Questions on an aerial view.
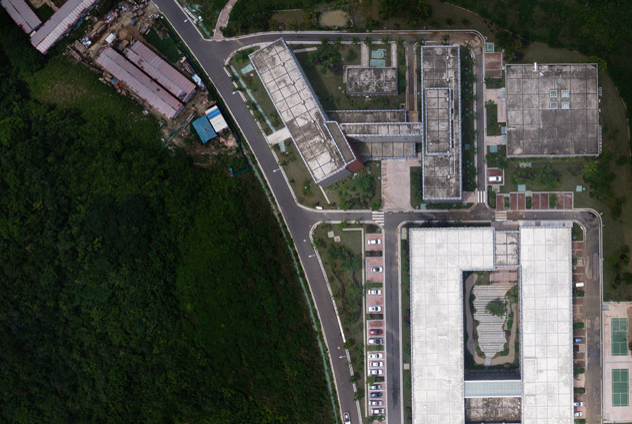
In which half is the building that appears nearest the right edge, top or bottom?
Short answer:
top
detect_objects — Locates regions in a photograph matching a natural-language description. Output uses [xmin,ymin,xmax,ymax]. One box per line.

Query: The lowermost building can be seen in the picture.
[409,220,574,424]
